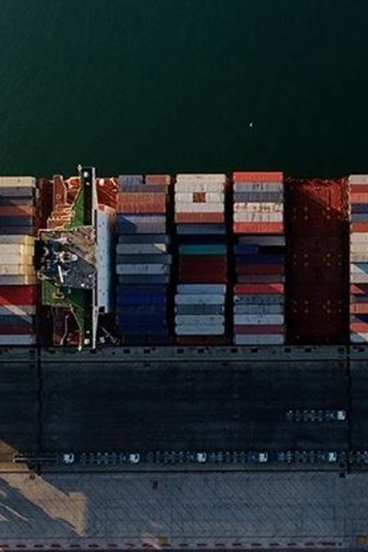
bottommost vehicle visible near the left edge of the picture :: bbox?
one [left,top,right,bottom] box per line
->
[13,454,75,466]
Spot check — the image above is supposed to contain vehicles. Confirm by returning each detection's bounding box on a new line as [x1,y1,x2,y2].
[147,454,207,467]
[278,453,337,465]
[13,454,75,466]
[209,453,269,465]
[79,454,139,466]
[288,411,347,422]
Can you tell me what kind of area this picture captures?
port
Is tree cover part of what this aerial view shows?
No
